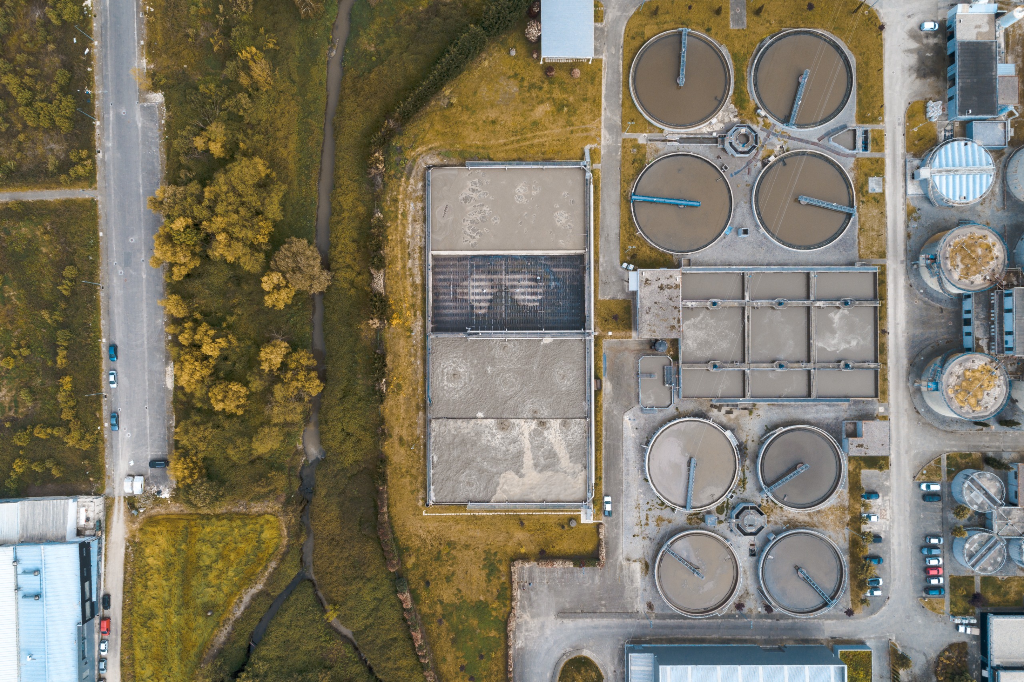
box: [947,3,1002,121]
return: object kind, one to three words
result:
building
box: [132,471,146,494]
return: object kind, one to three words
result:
camper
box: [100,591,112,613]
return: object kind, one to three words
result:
vehicle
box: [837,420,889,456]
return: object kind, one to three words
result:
building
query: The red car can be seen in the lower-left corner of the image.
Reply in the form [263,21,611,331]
[100,617,112,637]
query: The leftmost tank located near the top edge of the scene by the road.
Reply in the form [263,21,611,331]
[628,28,732,133]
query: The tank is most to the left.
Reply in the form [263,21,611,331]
[426,160,594,510]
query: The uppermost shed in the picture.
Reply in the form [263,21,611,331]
[541,0,594,60]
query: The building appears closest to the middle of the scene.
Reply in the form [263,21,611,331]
[629,268,681,338]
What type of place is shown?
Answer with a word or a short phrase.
industrial area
